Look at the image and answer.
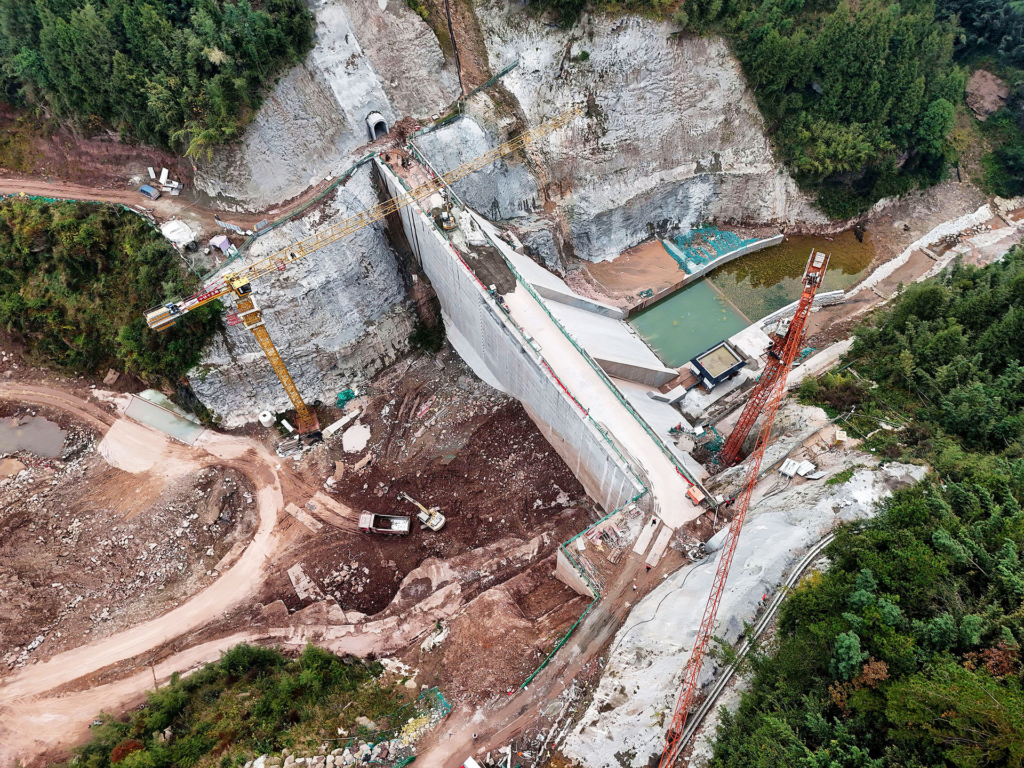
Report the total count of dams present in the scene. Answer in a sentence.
In total, 1 dam can be seen.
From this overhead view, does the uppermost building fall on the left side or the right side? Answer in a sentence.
The uppermost building is on the right side of the image.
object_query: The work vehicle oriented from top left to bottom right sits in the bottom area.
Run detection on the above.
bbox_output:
[403,490,446,528]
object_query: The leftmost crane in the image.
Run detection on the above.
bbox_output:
[131,104,587,436]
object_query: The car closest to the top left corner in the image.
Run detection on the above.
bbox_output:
[136,184,161,197]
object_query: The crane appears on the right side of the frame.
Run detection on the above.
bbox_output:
[657,247,833,768]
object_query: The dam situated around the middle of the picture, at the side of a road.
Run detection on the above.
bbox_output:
[378,145,720,521]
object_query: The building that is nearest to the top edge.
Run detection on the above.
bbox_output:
[689,346,744,394]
